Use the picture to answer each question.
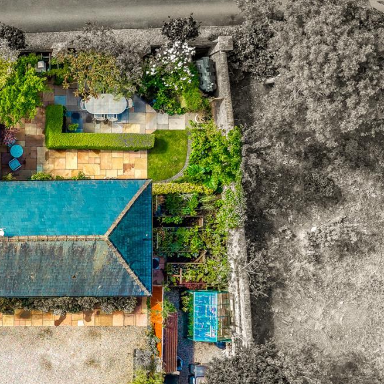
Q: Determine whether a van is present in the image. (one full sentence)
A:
No, the photo shows no van.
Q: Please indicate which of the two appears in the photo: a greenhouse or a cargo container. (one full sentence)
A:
Of the two, only a greenhouse appears.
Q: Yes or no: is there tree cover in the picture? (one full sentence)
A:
Yes, tree cover can be seen from above here.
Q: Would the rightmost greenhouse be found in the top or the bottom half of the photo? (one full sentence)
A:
The bottom half of the photo is where the rightmost greenhouse is.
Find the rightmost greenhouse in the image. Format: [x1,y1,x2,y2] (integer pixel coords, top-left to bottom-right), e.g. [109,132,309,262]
[182,289,230,342]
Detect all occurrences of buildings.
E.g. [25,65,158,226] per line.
[182,289,230,342]
[158,311,182,374]
[0,178,154,297]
